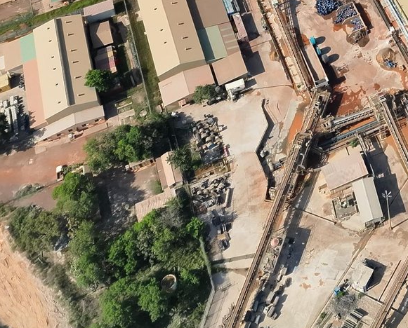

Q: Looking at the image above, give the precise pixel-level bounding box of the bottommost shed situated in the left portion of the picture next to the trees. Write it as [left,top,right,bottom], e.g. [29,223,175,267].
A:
[134,186,181,218]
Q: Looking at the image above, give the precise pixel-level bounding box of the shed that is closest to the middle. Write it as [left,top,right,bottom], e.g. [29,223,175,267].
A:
[160,155,179,189]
